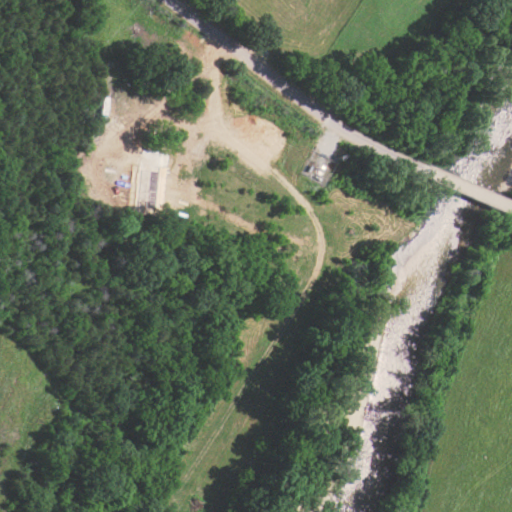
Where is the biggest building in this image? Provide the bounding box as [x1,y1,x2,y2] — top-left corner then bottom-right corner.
[129,149,170,211]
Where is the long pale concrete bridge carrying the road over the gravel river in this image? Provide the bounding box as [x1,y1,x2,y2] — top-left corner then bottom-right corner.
[441,170,512,214]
